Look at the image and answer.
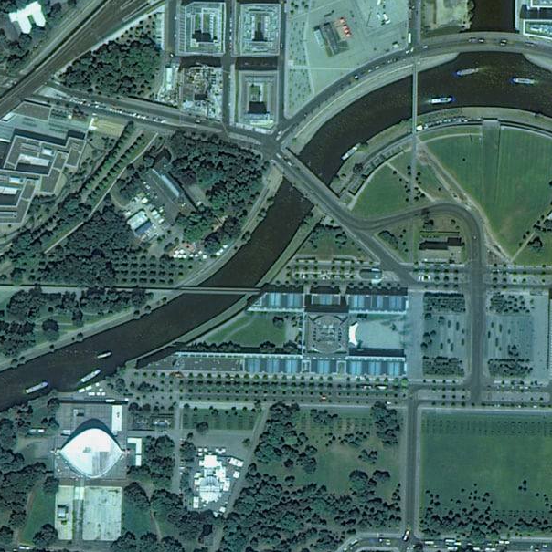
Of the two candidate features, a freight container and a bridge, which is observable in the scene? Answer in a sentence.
This aerial view contains a bridge.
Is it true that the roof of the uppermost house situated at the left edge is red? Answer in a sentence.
No, the color of the roof of the uppermost house situated at the left edge is white.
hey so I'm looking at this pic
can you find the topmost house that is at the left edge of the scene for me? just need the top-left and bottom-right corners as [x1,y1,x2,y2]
[9,1,46,33]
